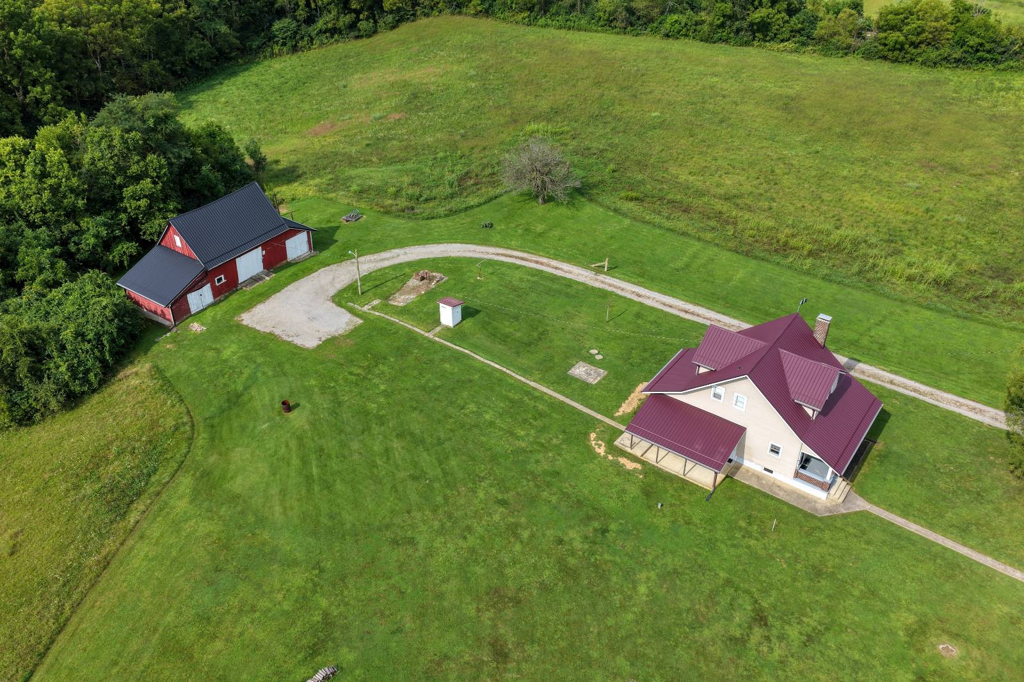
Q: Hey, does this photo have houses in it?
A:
Yes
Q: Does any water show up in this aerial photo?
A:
No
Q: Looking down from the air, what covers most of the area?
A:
grass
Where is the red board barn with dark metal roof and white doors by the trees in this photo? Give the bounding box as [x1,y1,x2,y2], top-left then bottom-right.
[117,180,317,327]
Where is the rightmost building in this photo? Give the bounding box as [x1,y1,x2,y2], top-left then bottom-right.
[613,300,885,507]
